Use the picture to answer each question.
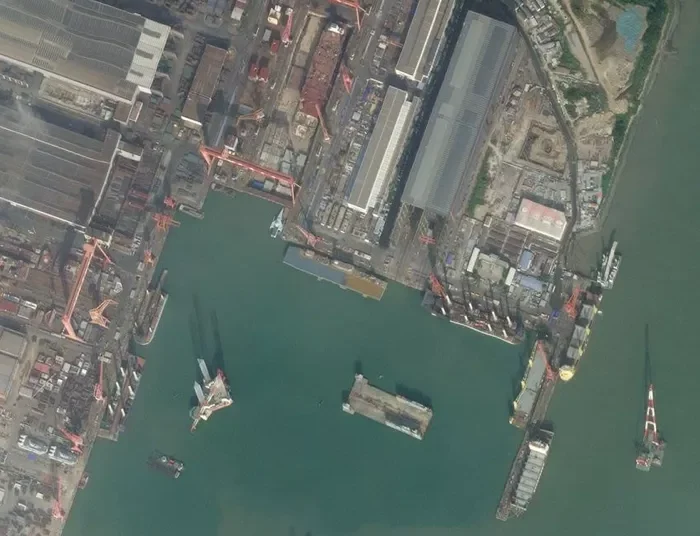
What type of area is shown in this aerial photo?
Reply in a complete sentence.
The area seen from above is a port.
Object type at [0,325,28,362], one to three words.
shed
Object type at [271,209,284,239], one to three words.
ship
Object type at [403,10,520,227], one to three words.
building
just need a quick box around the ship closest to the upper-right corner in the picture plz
[596,241,623,291]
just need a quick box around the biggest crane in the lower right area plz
[635,384,663,472]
